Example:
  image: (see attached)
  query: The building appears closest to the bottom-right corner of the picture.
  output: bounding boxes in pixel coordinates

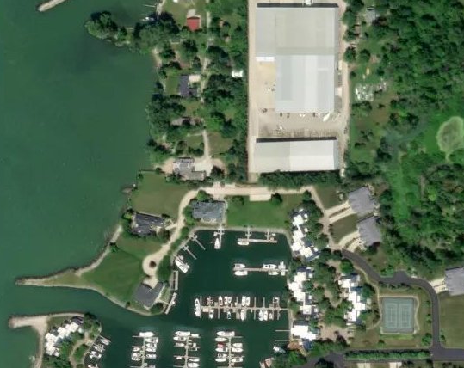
[445,268,464,294]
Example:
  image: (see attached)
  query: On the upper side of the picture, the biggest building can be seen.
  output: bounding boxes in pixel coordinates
[255,6,338,113]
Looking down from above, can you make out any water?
Yes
